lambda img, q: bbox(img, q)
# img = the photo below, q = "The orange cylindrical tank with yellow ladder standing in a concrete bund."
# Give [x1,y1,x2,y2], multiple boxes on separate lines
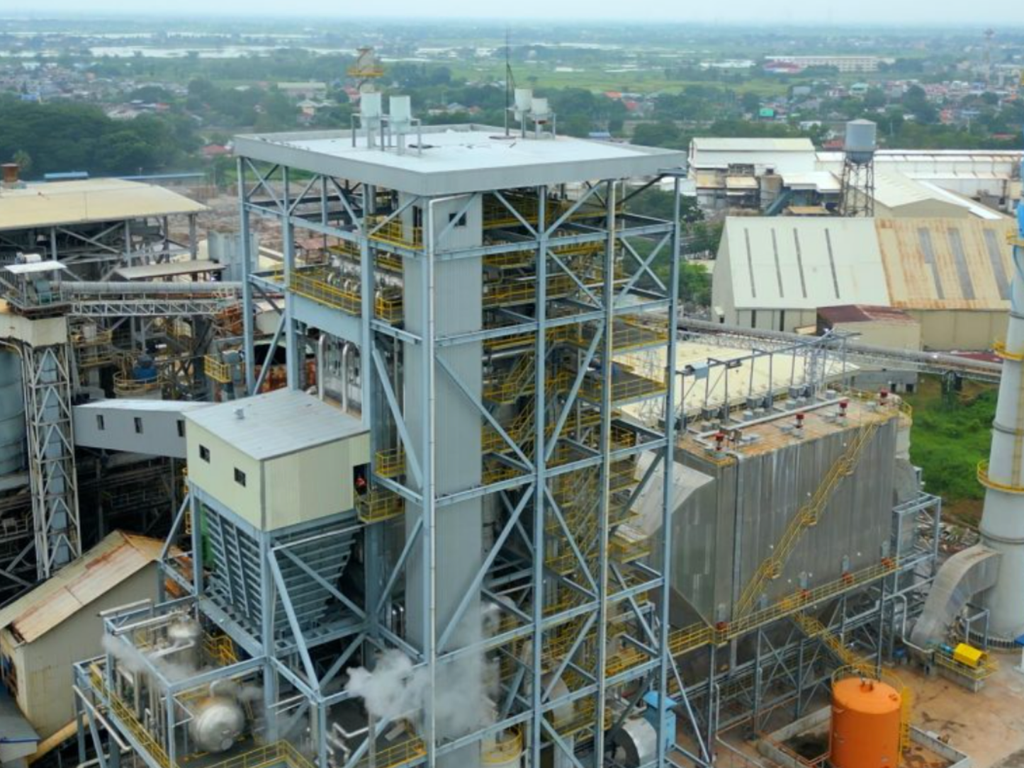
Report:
[831,662,920,768]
